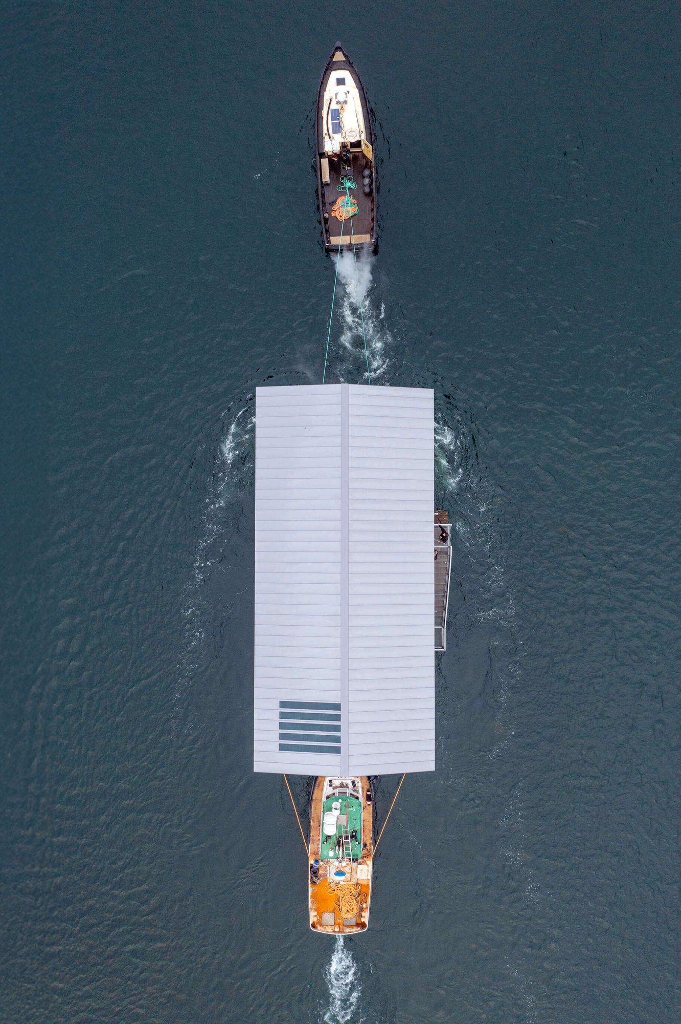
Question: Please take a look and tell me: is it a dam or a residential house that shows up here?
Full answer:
It is a residential house that can be seen here.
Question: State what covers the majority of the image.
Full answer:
The bulk of the photo consists of water.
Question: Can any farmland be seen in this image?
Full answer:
No, the picture contains no farmland.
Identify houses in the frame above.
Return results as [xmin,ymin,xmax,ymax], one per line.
[253,384,453,778]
